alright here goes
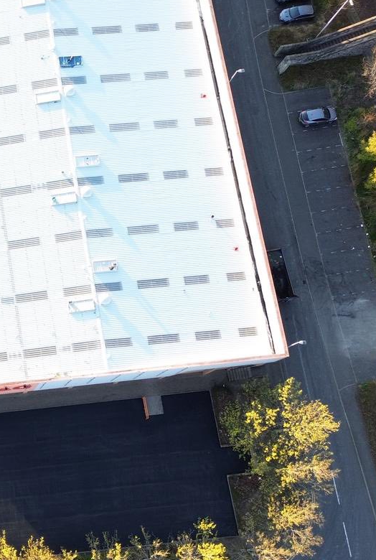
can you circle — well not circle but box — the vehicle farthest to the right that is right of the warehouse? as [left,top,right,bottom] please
[296,105,336,128]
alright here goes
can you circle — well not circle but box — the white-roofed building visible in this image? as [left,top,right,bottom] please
[0,0,288,395]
